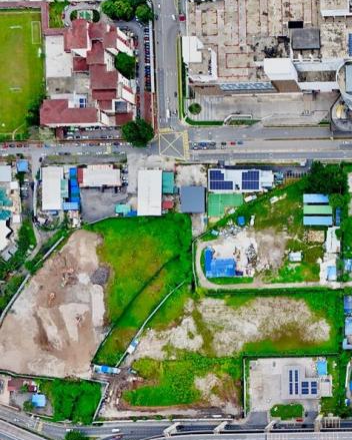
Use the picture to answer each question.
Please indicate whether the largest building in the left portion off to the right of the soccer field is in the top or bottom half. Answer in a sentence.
The largest building in the left portion off to the right of the soccer field is in the top half of the image.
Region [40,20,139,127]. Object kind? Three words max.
building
